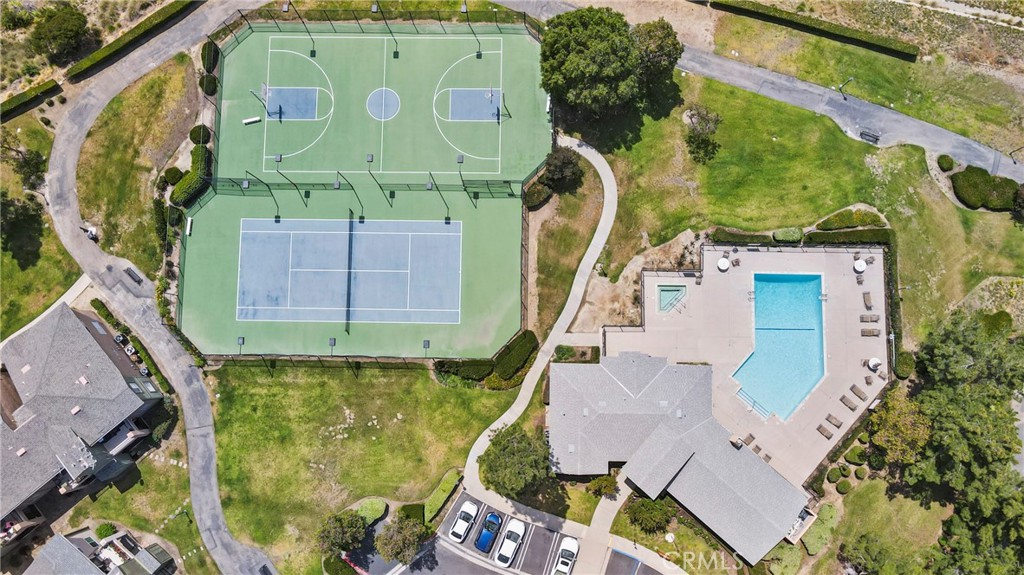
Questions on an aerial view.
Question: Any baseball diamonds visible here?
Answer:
No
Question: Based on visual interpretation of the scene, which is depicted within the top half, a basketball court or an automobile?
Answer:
basketball court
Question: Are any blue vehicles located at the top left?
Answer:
No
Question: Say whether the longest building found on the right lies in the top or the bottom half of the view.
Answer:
bottom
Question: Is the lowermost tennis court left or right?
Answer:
left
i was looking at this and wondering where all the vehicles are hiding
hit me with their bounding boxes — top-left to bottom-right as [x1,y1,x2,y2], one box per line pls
[551,535,578,575]
[448,498,477,546]
[475,510,501,556]
[495,518,526,571]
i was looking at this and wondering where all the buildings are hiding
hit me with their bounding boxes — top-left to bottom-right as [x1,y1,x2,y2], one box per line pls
[0,301,165,562]
[24,520,184,575]
[549,351,824,566]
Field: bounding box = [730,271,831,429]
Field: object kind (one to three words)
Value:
swimming pool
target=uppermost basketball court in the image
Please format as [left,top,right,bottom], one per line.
[215,22,551,183]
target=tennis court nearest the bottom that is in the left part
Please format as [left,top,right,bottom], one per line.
[177,181,523,357]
